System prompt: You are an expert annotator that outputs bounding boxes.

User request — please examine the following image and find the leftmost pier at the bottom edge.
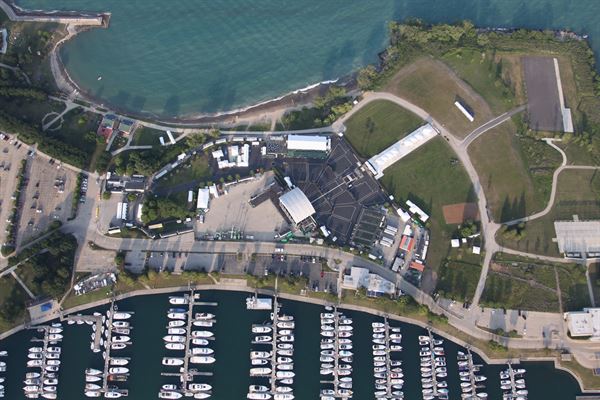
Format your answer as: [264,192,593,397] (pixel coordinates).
[21,322,63,395]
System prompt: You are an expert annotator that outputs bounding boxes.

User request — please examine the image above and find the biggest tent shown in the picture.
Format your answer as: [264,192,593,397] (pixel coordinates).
[363,121,438,175]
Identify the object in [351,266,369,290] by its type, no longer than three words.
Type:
building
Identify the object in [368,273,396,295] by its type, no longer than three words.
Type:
building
